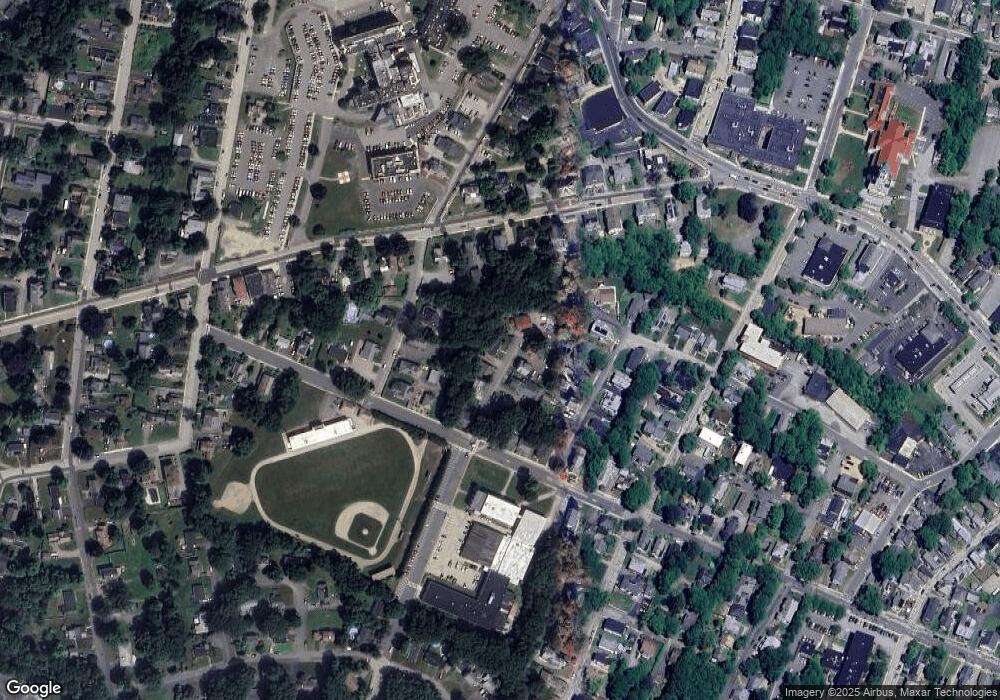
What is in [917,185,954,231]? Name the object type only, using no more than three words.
building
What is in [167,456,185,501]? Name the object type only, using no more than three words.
house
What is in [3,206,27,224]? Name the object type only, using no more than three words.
house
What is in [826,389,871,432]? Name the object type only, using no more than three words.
shed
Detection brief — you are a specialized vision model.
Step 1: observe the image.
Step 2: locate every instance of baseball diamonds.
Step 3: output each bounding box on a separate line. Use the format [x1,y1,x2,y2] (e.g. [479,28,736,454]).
[248,424,427,559]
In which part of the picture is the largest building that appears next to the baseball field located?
bottom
